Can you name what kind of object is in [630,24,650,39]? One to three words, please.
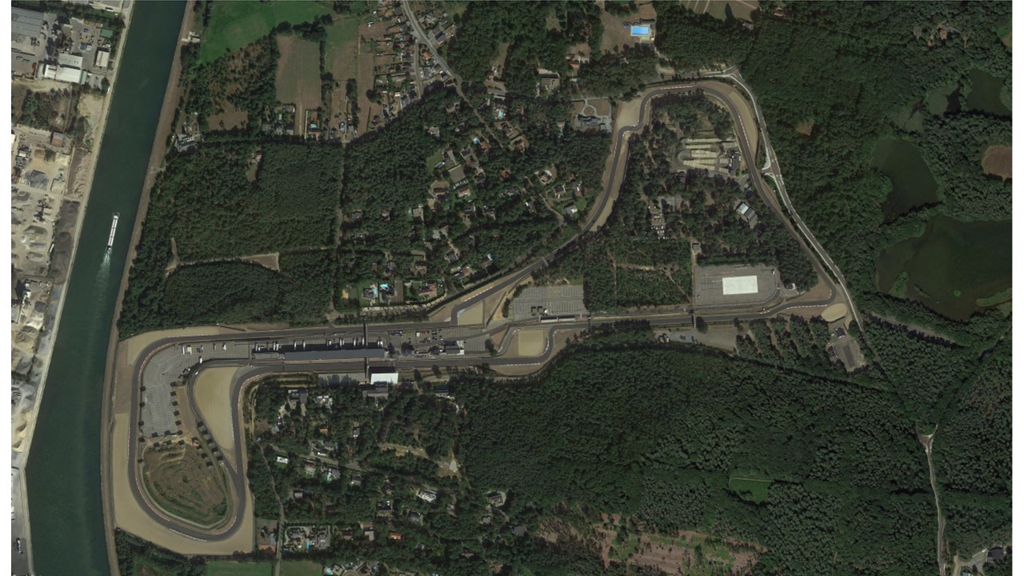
swimming pool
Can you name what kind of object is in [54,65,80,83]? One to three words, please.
building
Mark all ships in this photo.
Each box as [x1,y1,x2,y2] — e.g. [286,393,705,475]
[107,212,119,253]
